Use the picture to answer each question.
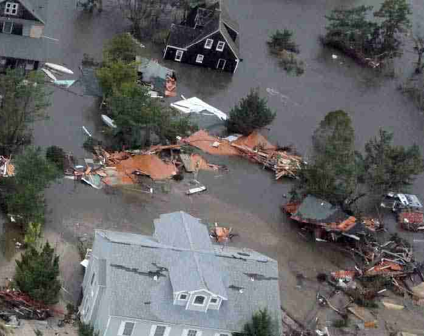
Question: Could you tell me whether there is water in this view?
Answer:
Yes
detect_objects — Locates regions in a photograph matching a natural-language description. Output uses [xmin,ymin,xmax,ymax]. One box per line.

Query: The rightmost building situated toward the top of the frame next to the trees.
[163,2,240,72]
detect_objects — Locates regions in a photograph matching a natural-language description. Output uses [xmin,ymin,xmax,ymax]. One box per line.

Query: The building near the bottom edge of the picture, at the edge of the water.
[82,208,287,336]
